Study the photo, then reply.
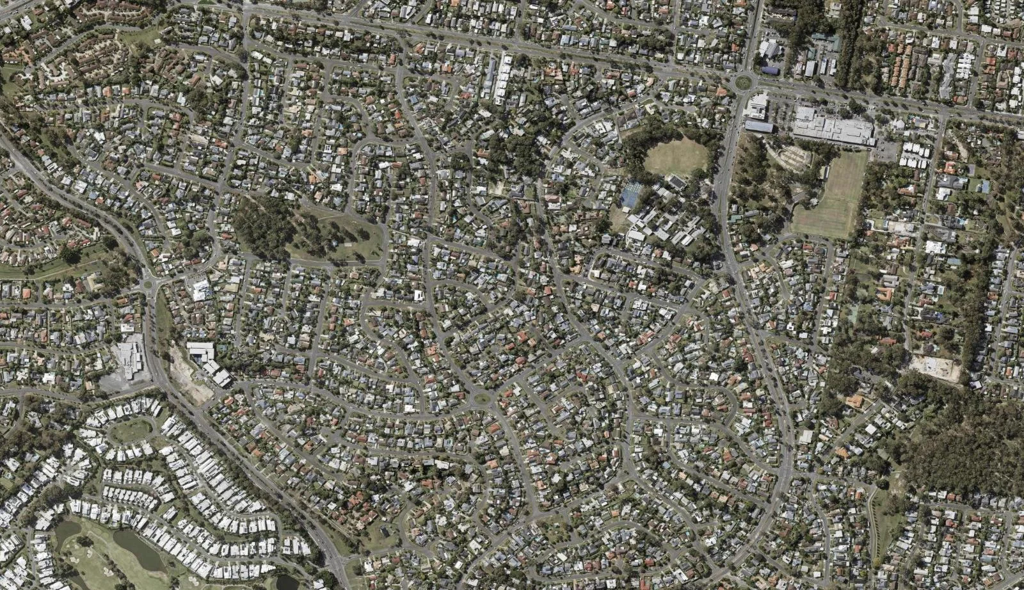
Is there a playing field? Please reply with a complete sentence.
Yes, looking at the shot, I can spot a playing field.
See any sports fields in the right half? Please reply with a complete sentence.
Yes, looking in the right half, one can make out a sports field.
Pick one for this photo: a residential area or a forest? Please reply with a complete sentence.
The picture captures a residential area.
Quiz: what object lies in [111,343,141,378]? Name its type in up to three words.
building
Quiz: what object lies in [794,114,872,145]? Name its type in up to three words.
building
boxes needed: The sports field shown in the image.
[792,151,867,237]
